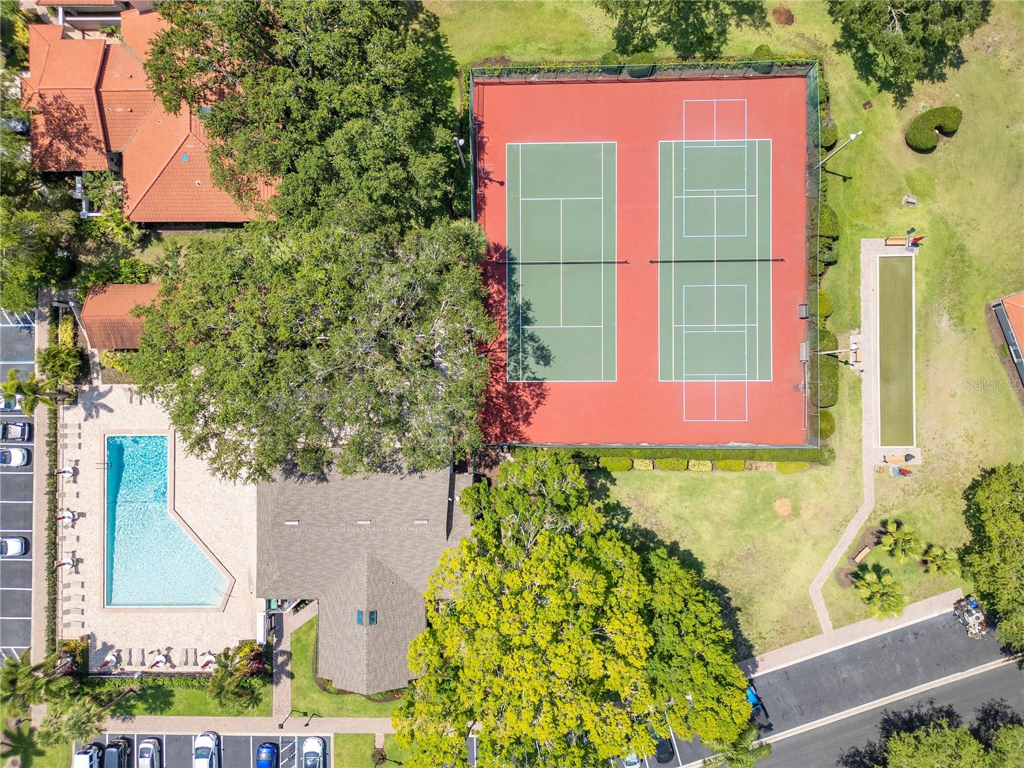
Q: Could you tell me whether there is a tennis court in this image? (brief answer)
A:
Yes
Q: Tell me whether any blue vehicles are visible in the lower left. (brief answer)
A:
Yes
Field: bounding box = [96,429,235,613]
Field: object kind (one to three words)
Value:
swimming pool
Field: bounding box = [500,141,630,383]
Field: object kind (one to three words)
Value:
tennis court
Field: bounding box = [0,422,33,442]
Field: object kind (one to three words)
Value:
car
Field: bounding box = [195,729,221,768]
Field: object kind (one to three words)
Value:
car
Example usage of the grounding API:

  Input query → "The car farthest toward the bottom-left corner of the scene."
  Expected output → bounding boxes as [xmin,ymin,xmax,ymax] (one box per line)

[74,741,103,768]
